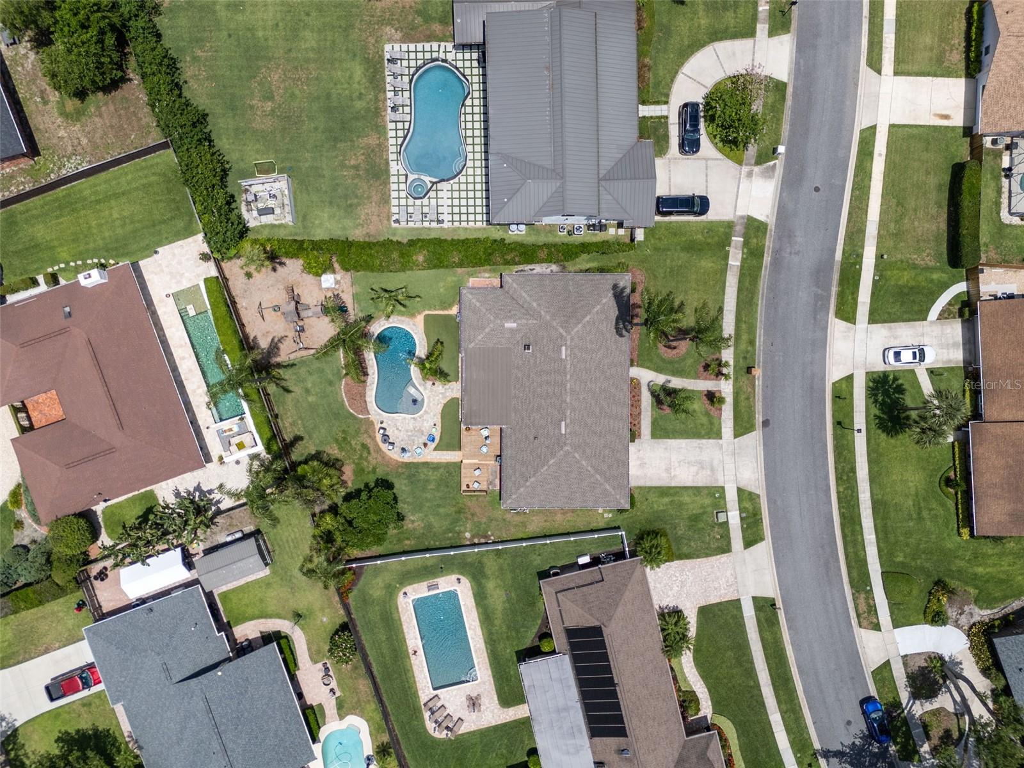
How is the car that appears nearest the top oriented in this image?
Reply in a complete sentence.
The car that appears nearest the top runs vertically in the image.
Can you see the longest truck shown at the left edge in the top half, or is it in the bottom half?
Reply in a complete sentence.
You can find the longest truck shown at the left edge in the bottom half.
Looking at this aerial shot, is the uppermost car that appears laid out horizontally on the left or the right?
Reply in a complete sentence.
It is on the right.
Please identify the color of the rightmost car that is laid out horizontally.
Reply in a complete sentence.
The rightmost car that is laid out horizontally is white.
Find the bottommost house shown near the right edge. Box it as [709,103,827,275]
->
[988,629,1024,713]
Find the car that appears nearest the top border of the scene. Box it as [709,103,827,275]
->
[679,100,705,156]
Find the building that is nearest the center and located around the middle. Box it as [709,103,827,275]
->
[460,273,631,510]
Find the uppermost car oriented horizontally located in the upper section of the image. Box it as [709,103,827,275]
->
[655,192,709,217]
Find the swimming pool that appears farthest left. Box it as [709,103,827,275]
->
[170,282,248,426]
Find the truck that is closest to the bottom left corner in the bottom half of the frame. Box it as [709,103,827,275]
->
[43,663,101,701]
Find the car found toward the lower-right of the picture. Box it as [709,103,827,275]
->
[858,695,895,747]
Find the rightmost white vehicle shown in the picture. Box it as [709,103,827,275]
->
[883,343,936,367]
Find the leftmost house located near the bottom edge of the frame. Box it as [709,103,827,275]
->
[81,584,319,768]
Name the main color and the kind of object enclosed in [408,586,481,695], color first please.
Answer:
blue swimming pool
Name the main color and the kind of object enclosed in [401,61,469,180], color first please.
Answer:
blue swimming pool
